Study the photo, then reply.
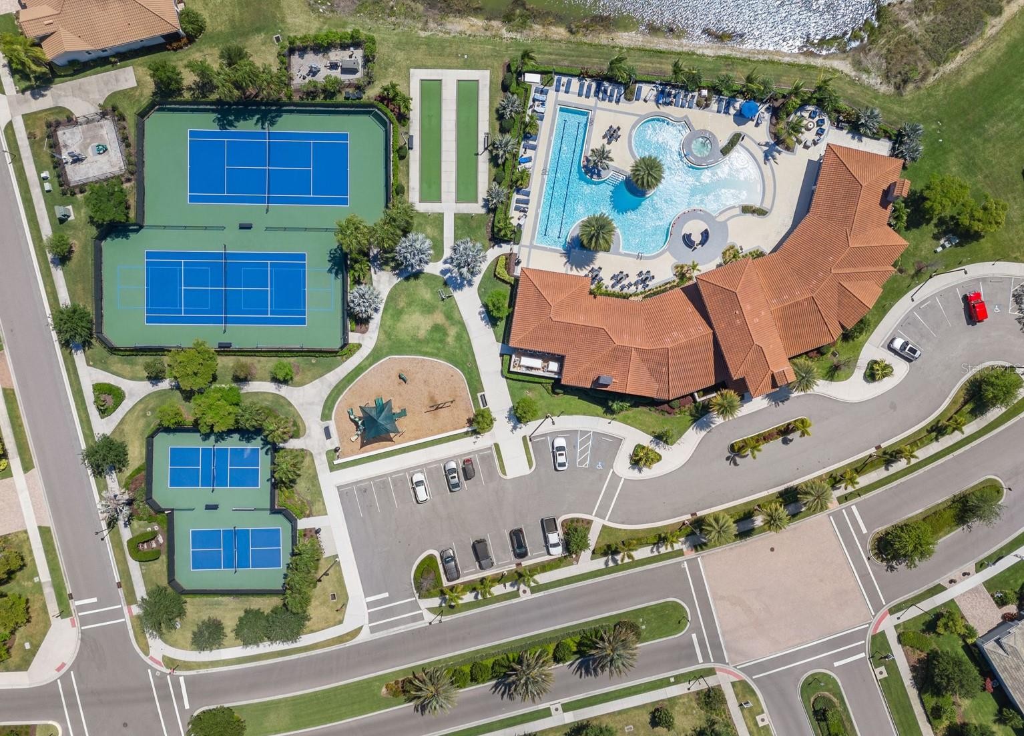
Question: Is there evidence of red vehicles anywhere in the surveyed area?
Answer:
Yes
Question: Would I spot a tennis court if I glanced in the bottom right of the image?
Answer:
No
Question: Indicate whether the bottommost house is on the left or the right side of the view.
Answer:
right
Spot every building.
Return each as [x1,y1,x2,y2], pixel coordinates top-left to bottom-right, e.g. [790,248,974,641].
[974,608,1024,723]
[507,143,910,402]
[19,0,185,60]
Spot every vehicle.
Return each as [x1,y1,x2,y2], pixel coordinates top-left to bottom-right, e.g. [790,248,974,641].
[411,471,430,505]
[964,290,989,324]
[510,527,528,560]
[542,516,562,556]
[464,459,475,479]
[441,547,459,581]
[888,336,922,362]
[444,459,462,493]
[472,537,492,570]
[552,436,567,470]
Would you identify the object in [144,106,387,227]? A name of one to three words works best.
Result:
tennis court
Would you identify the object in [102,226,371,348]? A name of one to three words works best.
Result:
tennis court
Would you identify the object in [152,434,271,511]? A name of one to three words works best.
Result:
sports court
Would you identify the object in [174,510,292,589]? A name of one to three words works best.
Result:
sports court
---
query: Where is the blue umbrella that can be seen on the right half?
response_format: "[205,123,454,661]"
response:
[740,100,759,119]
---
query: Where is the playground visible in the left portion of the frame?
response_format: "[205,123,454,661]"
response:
[331,355,478,465]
